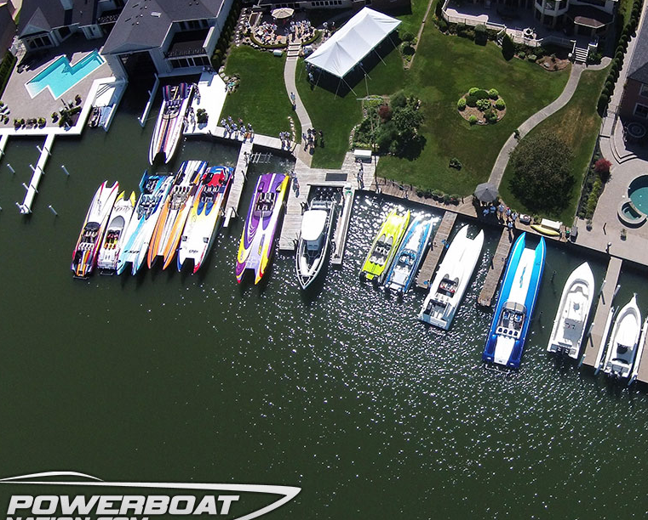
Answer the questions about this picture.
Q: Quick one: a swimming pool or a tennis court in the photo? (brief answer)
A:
swimming pool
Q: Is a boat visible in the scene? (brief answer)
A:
Yes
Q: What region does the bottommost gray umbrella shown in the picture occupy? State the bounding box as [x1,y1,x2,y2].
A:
[475,181,501,202]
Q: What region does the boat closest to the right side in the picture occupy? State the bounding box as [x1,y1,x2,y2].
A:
[603,290,641,383]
